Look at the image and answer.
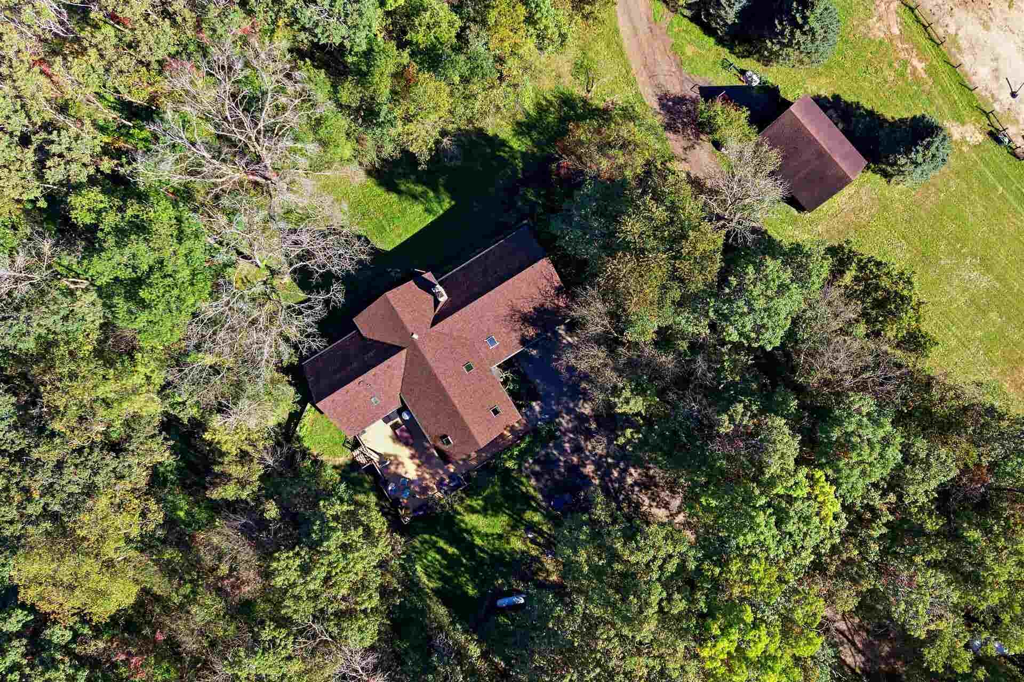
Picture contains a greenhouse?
No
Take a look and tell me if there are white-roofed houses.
No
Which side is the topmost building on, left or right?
right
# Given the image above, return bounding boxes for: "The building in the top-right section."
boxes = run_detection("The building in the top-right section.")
[751,95,862,207]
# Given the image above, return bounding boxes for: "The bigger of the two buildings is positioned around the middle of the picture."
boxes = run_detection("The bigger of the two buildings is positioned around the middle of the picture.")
[301,224,576,467]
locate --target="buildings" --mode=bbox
[751,95,862,207]
[301,224,576,467]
